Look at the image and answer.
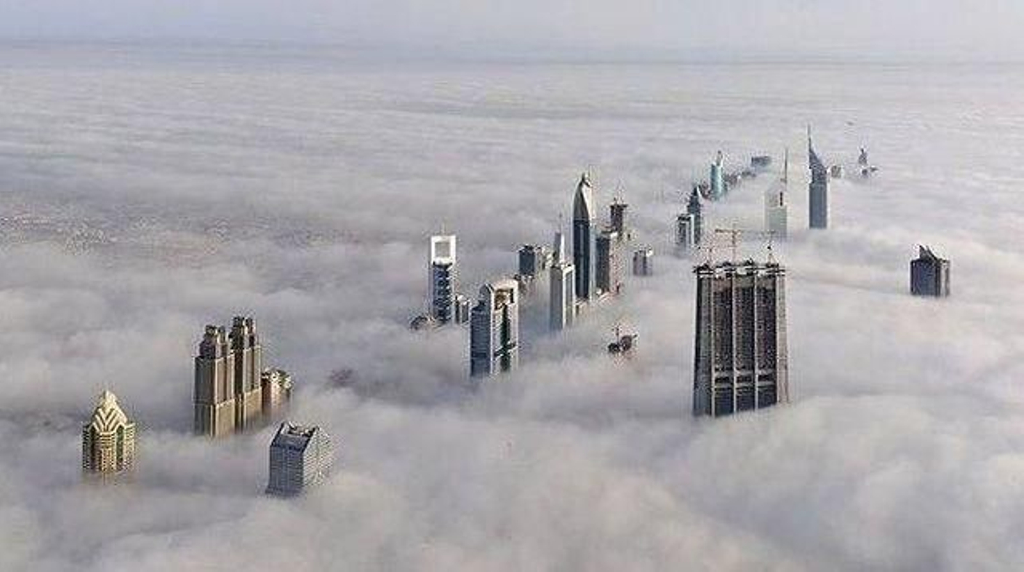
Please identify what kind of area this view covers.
residential area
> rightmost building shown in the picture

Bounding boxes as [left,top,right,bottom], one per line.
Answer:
[911,240,943,314]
